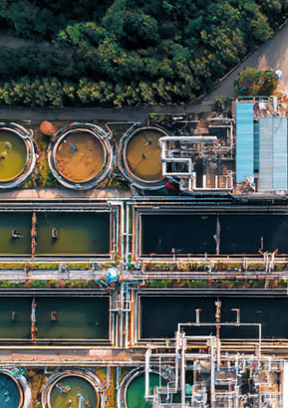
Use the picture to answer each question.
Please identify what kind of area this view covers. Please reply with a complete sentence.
What you see here is an industrial area.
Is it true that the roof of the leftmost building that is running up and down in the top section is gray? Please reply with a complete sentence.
No, the roof of the leftmost building that is running up and down in the top section is blue.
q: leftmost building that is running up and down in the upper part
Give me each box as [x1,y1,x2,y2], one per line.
[234,102,259,184]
